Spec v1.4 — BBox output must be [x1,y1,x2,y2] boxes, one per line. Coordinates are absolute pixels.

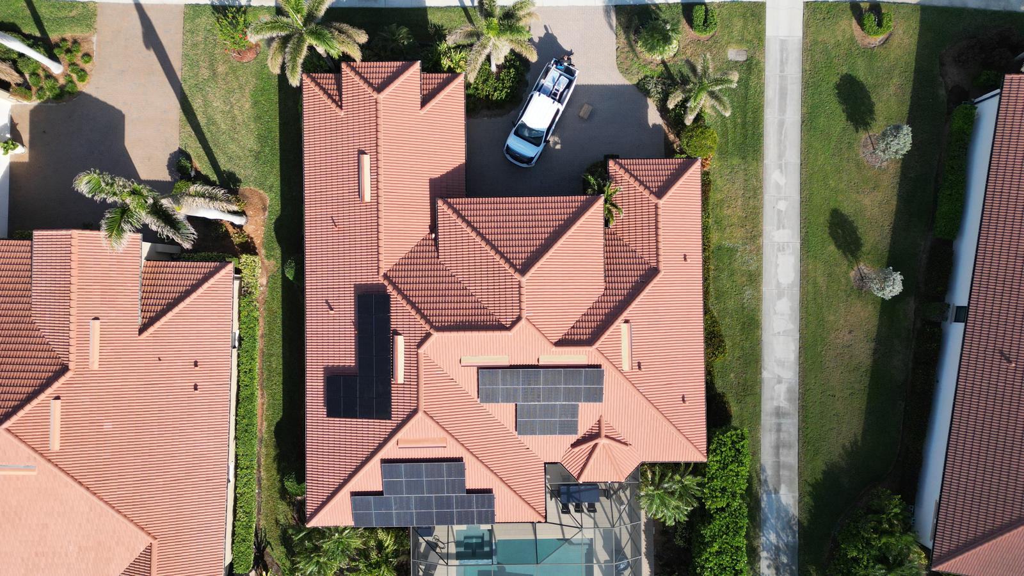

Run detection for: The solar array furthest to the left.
[327,294,391,420]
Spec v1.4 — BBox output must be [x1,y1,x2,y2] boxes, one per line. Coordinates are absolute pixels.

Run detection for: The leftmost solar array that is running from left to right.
[351,462,495,526]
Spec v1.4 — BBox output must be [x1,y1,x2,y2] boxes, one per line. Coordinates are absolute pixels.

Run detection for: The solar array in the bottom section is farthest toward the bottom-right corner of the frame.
[479,369,604,435]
